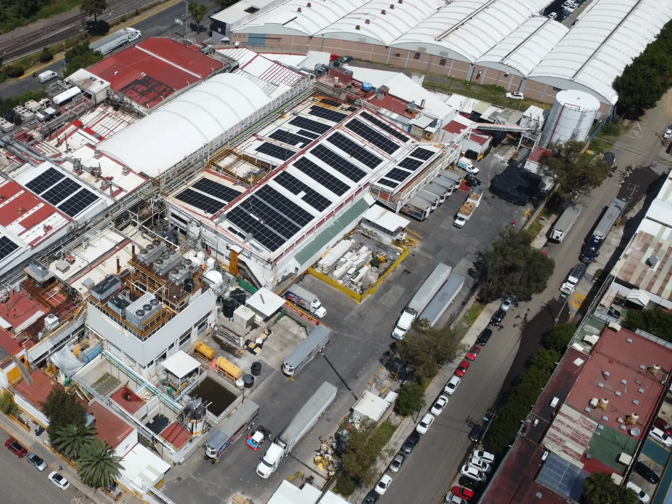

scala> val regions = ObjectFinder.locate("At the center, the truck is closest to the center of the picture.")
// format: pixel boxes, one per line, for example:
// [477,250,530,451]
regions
[286,284,326,320]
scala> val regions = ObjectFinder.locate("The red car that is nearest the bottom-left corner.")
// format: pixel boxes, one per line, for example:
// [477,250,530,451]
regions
[5,437,28,459]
